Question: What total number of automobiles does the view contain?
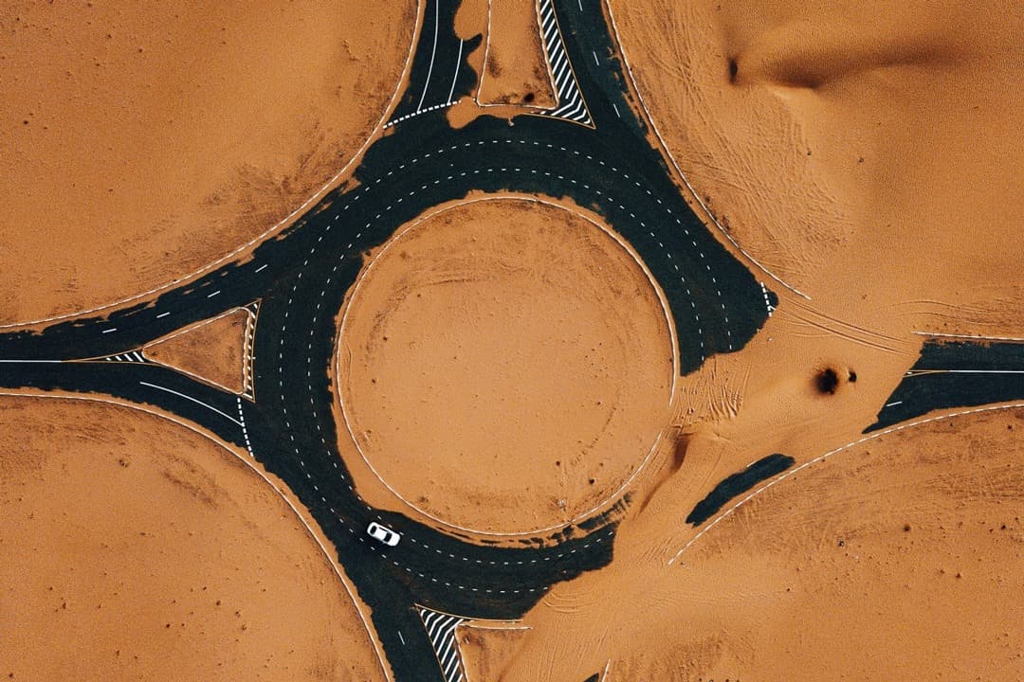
one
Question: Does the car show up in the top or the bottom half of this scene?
bottom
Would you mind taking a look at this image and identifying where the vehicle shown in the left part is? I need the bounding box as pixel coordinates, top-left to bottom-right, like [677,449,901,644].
[367,522,400,546]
